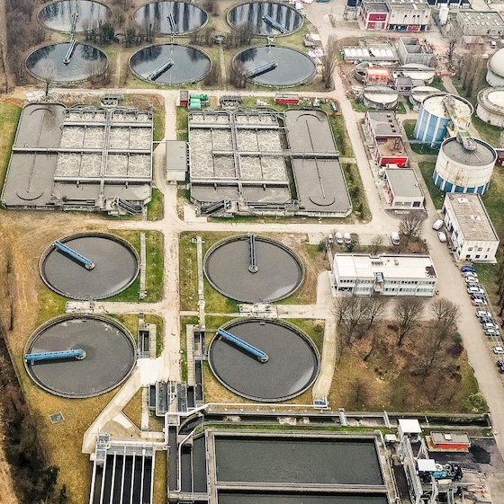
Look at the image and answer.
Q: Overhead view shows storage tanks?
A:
Yes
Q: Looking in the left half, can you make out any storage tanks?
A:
Yes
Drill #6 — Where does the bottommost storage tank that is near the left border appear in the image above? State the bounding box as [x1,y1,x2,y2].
[21,313,137,404]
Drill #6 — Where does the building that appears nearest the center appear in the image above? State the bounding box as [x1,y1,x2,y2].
[200,198,303,222]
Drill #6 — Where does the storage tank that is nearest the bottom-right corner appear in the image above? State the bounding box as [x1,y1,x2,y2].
[207,317,321,408]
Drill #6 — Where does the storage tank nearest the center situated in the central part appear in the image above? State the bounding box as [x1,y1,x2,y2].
[203,228,305,307]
